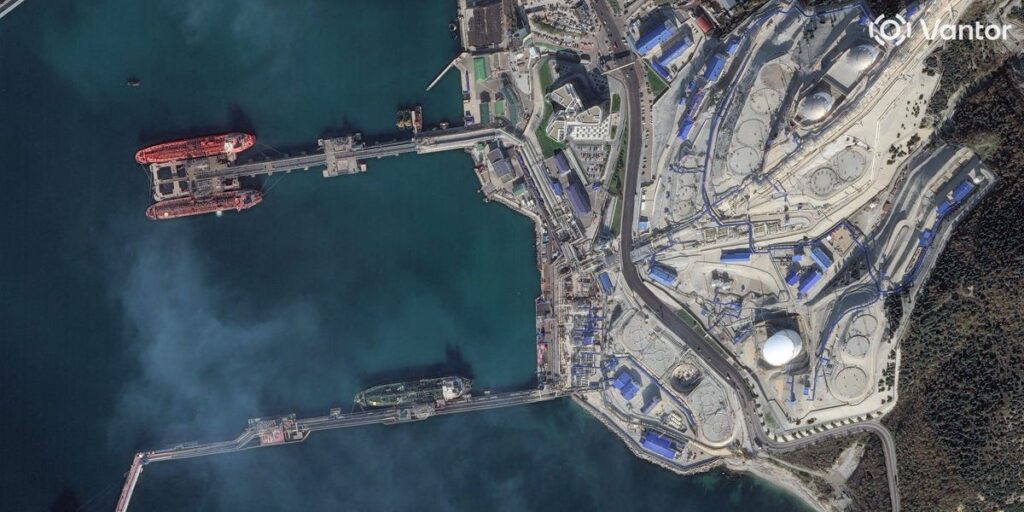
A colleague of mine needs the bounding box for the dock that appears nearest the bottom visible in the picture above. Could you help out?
[112,386,567,512]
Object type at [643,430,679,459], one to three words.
building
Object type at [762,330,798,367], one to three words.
storage tank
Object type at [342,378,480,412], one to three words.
ship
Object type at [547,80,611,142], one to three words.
building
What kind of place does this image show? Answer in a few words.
port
